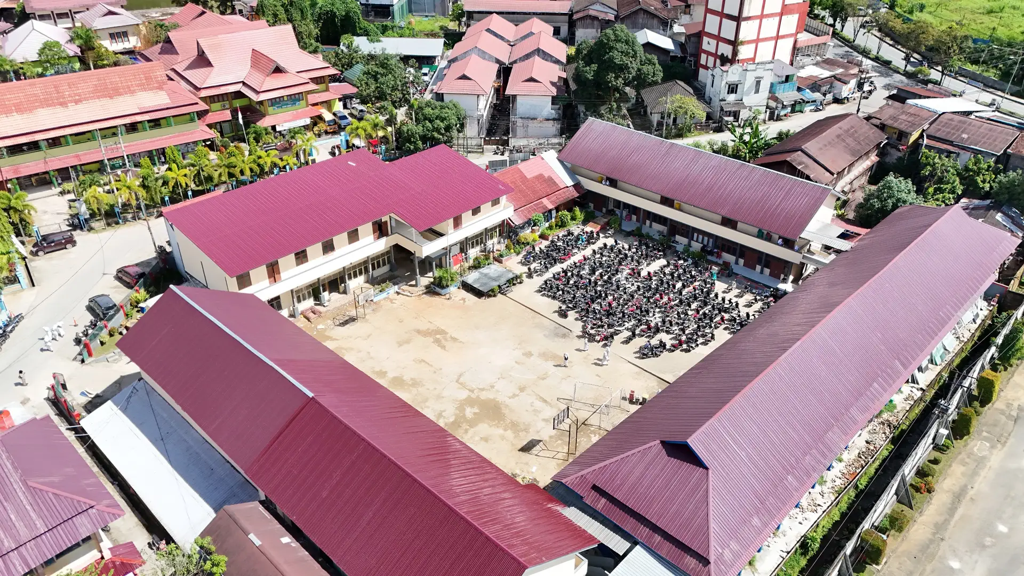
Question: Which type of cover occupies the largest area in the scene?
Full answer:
The largest share of the image is taken up by buildings.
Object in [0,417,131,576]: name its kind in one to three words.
house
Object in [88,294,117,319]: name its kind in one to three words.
car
